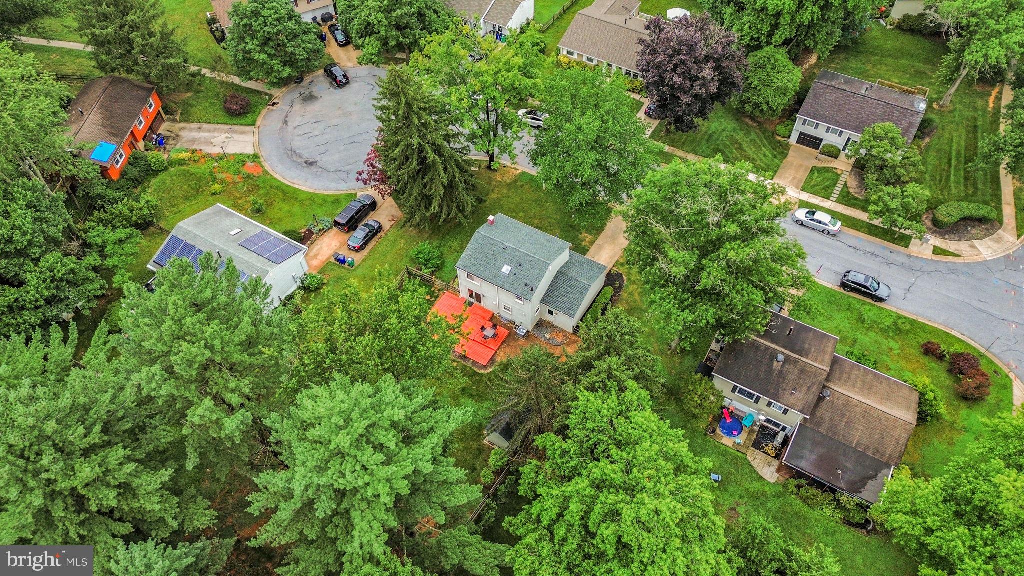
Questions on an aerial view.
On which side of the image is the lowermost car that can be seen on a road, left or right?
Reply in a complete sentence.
The lowermost car that can be seen on a road sits on the right side.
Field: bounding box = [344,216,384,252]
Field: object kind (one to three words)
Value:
car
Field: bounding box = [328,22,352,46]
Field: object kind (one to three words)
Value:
car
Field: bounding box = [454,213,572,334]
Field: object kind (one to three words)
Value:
house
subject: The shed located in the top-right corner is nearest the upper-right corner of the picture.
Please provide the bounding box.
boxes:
[885,0,927,33]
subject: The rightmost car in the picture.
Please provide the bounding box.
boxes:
[840,269,892,303]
